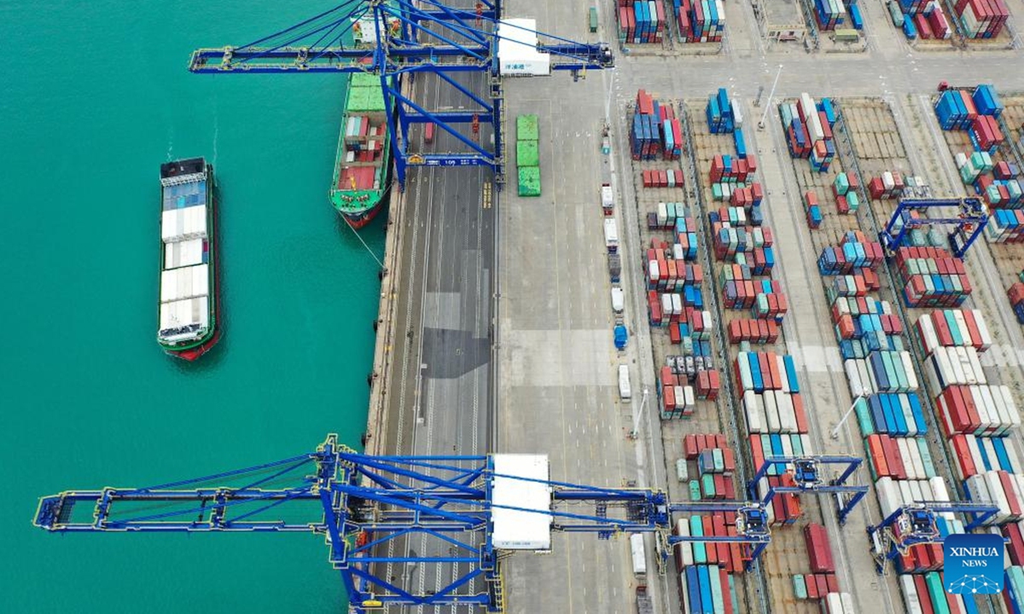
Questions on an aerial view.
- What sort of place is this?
port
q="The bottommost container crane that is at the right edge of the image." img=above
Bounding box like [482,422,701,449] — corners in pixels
[872,501,1015,570]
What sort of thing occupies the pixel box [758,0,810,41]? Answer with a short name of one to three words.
building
